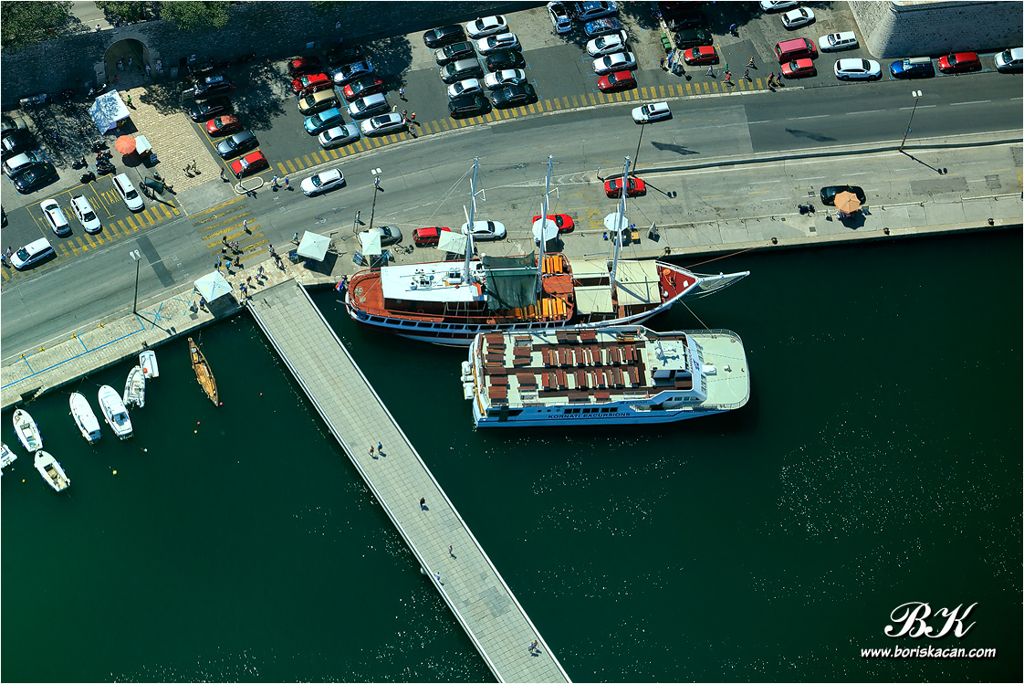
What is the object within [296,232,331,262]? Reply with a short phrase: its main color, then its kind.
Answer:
white umbrella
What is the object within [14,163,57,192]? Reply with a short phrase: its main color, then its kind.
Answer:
black car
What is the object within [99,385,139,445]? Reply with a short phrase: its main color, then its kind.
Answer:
white boat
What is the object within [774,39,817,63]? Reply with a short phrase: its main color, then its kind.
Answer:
red car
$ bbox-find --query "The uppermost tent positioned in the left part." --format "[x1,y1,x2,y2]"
[87,90,130,139]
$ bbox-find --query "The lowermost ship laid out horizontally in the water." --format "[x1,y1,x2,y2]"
[462,326,751,426]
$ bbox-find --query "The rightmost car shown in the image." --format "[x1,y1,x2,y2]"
[993,50,1024,71]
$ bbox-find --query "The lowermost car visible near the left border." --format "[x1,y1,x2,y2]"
[11,238,54,269]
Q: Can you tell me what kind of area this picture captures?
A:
port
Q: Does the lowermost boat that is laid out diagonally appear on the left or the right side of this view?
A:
left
